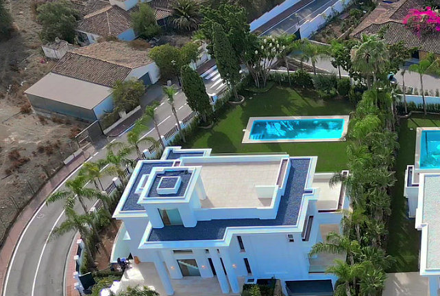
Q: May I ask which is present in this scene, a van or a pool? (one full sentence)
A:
There is a pool in the scene.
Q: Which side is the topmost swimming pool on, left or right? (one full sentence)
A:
The topmost swimming pool is on the right side of the image.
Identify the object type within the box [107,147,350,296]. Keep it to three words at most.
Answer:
house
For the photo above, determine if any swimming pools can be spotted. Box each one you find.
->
[414,125,440,167]
[242,114,349,143]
